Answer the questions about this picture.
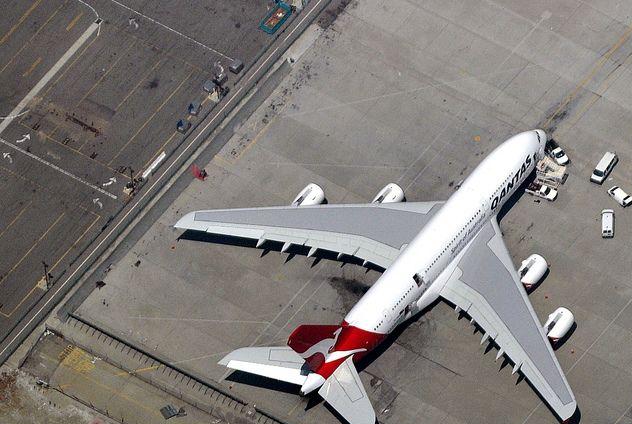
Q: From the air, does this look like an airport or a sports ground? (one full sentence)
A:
This looks like an airport.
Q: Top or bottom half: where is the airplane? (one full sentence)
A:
The bottom half of the photo is where the airplane is.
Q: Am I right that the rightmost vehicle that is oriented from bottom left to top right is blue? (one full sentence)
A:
No, from above the rightmost vehicle that is oriented from bottom left to top right looks white.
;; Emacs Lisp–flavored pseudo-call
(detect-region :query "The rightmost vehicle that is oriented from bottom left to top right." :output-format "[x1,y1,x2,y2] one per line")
[590,151,617,186]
